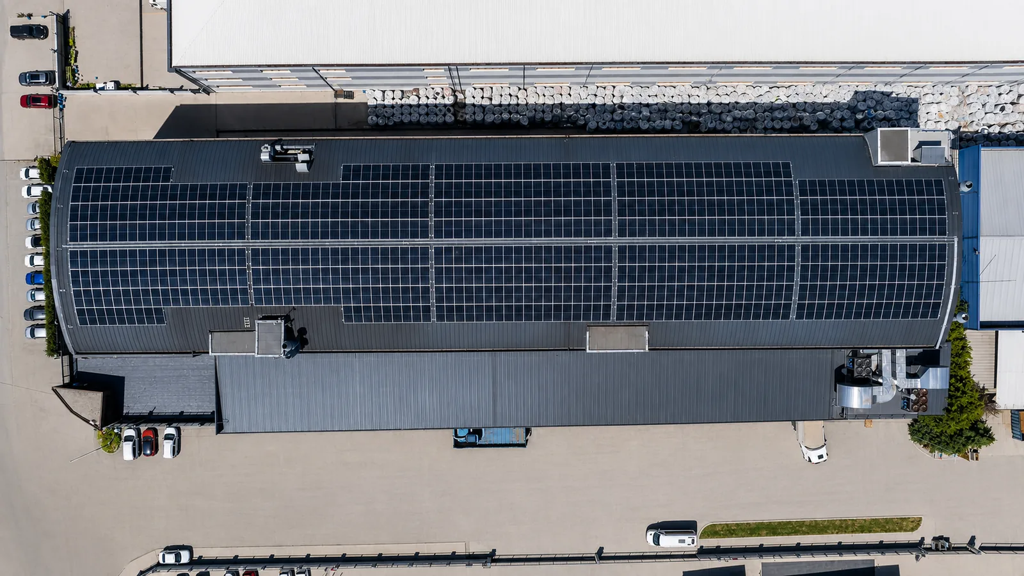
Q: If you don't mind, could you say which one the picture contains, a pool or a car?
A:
car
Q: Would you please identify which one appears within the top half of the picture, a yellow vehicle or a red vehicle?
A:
red vehicle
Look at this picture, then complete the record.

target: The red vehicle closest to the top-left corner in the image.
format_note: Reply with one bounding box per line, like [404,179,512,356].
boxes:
[22,93,56,109]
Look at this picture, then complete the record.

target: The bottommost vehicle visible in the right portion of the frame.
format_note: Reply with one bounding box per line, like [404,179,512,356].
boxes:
[646,531,698,550]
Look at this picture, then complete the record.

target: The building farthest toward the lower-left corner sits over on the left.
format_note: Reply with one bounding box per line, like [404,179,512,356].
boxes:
[51,384,116,429]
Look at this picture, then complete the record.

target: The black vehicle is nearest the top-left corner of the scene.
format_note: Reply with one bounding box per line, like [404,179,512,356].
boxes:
[10,23,50,41]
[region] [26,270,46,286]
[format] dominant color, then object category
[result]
blue car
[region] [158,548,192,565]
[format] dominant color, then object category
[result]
white car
